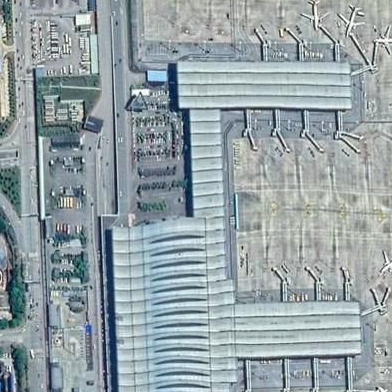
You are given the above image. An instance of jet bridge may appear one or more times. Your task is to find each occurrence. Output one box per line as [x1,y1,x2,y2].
[304,266,321,302]
[347,357,378,392]
[301,110,324,153]
[360,287,390,317]
[335,110,365,154]
[245,359,250,392]
[283,359,289,392]
[245,109,257,150]
[270,266,286,303]
[274,110,290,153]
[284,26,303,60]
[318,23,339,60]
[312,358,318,392]
[340,266,349,302]
[254,27,267,60]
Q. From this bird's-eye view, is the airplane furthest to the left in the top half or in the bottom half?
top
